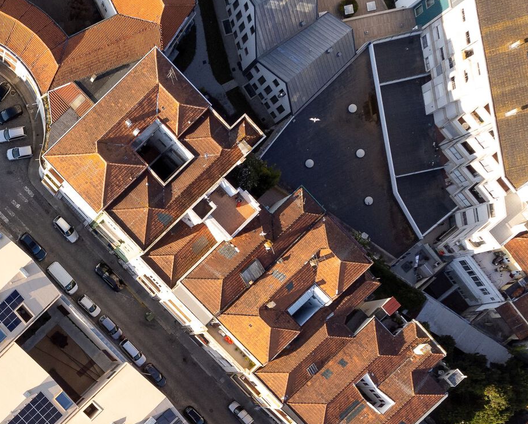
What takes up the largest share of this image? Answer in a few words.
buildings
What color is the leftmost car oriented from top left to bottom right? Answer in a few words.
black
